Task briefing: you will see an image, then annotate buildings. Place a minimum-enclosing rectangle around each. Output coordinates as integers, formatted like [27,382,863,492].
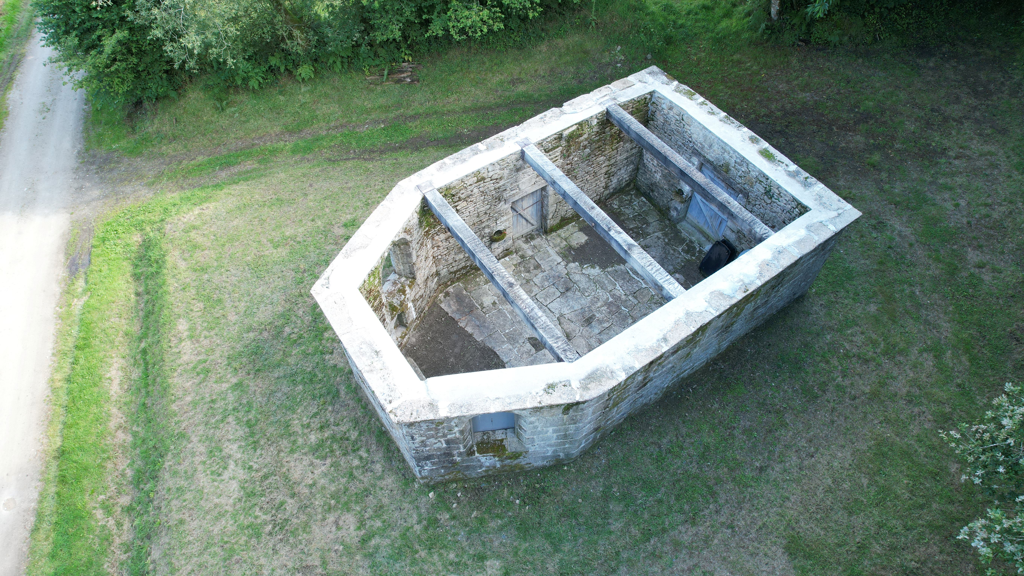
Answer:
[310,68,860,486]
